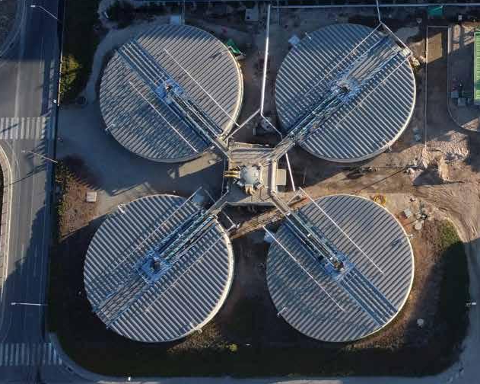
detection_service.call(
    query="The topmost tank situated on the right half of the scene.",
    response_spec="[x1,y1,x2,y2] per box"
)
[273,24,418,167]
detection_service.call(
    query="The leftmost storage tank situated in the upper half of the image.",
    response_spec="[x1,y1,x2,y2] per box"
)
[99,25,247,167]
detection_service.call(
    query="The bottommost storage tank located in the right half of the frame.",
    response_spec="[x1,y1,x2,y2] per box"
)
[265,191,415,345]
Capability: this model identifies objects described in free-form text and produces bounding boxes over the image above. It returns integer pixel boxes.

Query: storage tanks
[273,24,418,167]
[99,25,247,167]
[83,190,237,345]
[265,191,415,345]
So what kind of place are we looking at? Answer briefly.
industrial area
